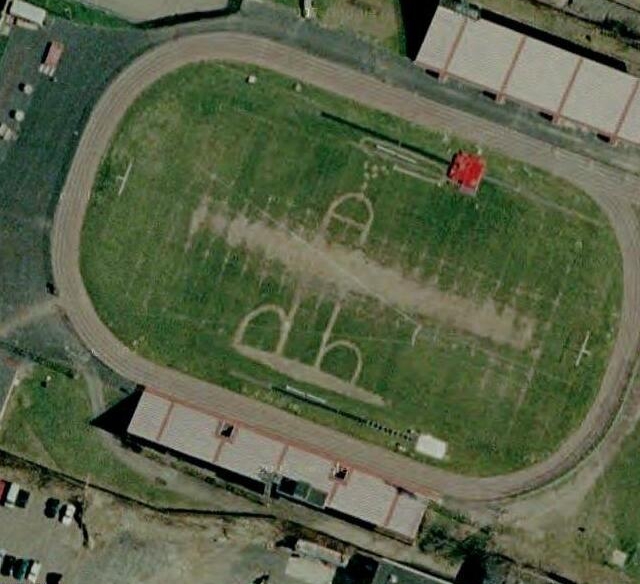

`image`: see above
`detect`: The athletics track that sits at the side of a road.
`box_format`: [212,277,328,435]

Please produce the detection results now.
[52,33,640,500]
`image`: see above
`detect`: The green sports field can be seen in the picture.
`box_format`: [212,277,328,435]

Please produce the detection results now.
[81,61,624,475]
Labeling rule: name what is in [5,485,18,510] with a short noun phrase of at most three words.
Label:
vehicle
